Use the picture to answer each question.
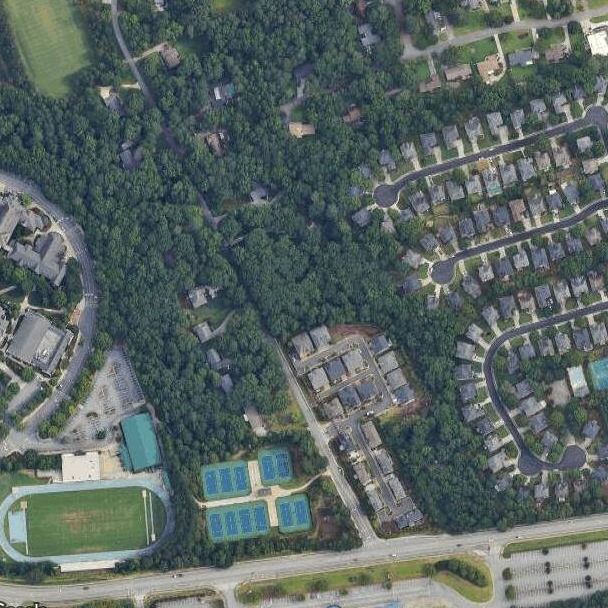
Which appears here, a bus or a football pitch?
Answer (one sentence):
The image shows a football pitch.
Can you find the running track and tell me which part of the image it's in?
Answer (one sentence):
The running track appears toward the bottom left of the photo.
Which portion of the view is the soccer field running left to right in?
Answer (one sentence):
Look in the bottom left portion of the view to spot the soccer field running left to right.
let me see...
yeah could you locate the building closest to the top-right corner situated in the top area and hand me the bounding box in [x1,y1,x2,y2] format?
[588,31,608,55]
